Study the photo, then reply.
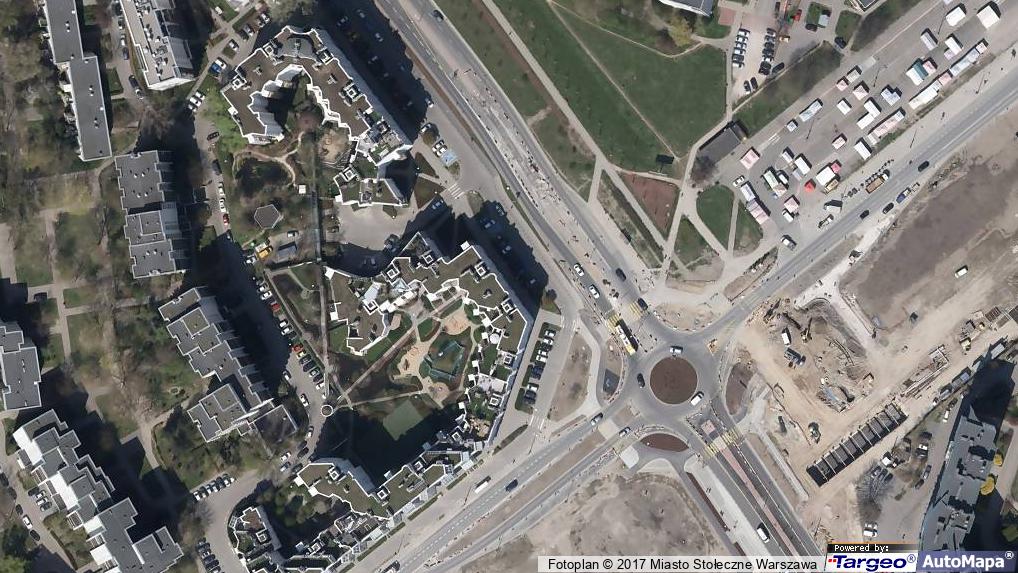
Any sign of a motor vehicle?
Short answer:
Yes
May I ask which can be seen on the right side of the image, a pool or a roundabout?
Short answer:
roundabout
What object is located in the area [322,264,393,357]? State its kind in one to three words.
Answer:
house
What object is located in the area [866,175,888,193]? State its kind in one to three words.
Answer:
vehicle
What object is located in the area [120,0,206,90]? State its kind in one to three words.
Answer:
building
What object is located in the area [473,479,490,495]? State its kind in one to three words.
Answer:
vehicle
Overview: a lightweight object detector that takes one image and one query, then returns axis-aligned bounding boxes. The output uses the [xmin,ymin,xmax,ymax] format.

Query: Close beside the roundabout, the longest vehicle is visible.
[615,322,635,352]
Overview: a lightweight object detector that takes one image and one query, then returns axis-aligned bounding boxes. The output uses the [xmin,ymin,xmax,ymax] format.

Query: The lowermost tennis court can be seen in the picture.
[383,400,424,441]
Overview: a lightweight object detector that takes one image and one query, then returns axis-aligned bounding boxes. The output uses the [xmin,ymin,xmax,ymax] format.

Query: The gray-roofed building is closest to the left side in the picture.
[0,320,57,410]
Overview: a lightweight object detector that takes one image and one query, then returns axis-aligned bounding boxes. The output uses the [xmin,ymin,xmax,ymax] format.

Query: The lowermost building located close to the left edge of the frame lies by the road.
[14,402,196,573]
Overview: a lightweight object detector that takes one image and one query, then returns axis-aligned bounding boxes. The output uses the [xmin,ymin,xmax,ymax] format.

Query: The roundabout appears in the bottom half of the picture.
[626,333,721,427]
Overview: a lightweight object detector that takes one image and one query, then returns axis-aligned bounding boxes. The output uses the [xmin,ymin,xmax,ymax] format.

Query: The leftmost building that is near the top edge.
[44,0,122,161]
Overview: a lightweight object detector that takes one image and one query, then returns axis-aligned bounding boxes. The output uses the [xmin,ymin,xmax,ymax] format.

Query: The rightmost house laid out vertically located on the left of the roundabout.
[455,298,529,444]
